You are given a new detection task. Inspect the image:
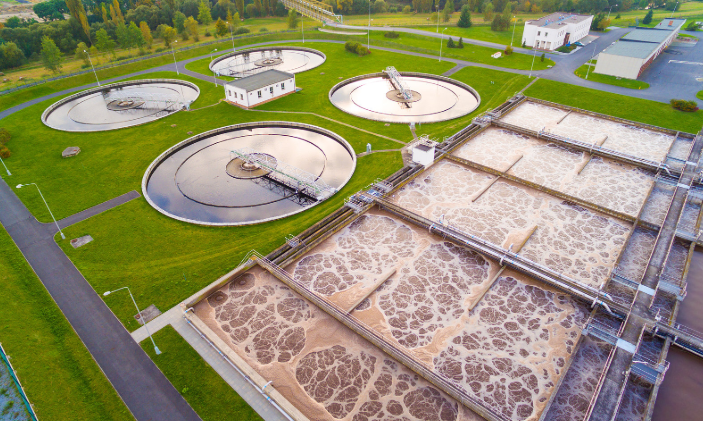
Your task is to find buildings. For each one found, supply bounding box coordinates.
[593,14,685,80]
[521,9,594,51]
[223,69,309,111]
[410,138,437,166]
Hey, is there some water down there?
Yes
